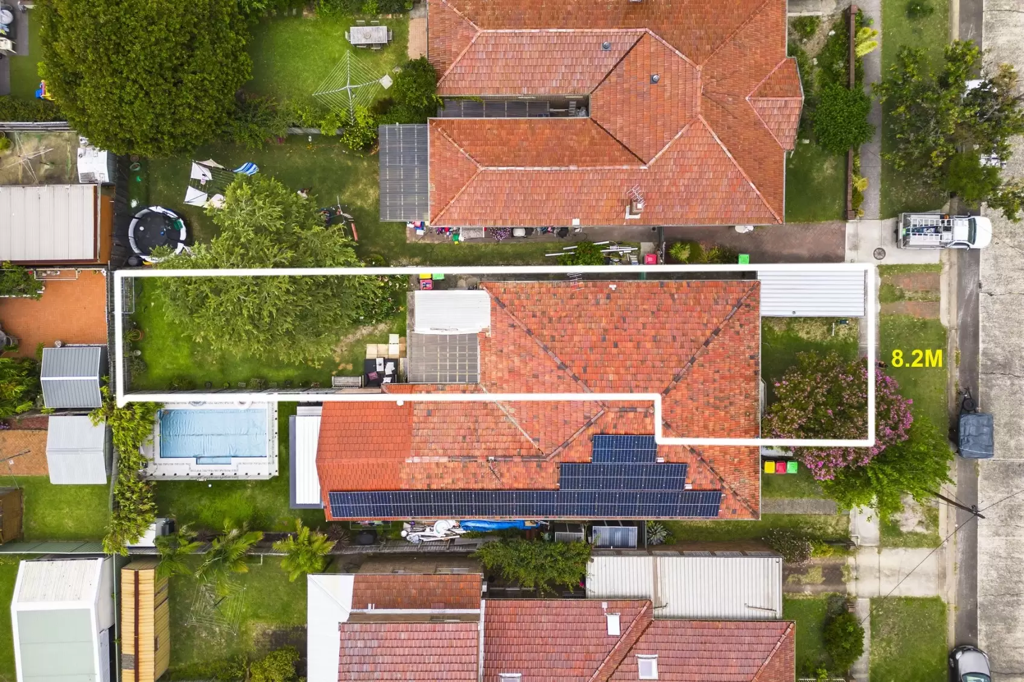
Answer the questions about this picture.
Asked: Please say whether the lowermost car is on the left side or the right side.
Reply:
right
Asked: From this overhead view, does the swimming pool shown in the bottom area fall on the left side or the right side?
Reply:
left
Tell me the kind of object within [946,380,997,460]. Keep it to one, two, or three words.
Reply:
trailer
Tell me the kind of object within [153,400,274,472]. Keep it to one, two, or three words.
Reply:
swimming pool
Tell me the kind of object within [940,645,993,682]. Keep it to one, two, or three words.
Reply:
car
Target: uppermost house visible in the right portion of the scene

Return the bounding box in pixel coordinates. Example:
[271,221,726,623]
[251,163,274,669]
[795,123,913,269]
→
[427,0,806,226]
